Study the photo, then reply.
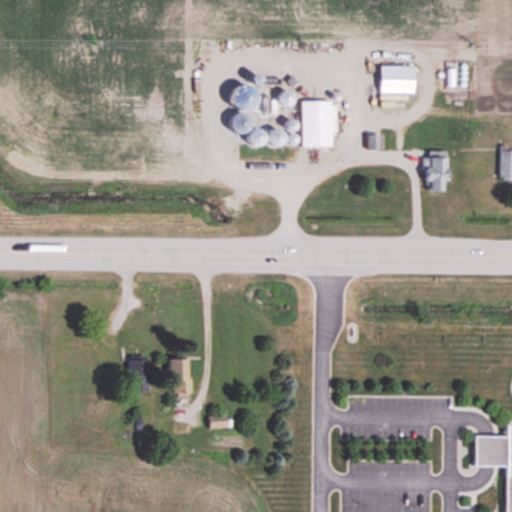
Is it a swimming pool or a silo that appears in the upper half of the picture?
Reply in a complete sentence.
The one visible in the upper half of the picture is a silo.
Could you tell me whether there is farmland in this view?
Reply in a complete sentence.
Yes, farmland can be seen from above here.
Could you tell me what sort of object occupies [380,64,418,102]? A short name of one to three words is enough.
barn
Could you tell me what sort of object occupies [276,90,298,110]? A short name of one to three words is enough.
silo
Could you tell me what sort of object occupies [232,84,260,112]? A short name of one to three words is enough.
silo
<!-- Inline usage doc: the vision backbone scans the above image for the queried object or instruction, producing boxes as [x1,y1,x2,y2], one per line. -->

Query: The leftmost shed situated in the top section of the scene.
[300,100,334,148]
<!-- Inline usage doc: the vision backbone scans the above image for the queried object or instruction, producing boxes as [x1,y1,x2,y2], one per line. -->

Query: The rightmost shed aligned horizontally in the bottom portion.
[208,416,234,430]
